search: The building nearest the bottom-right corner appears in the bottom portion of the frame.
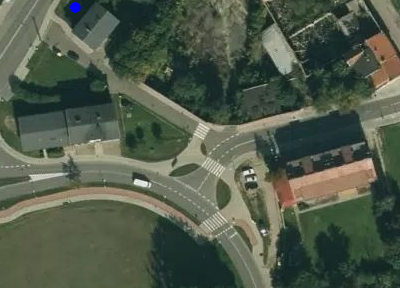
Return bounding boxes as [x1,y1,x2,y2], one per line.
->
[274,142,378,206]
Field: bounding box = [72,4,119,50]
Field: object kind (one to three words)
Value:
house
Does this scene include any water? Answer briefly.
No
